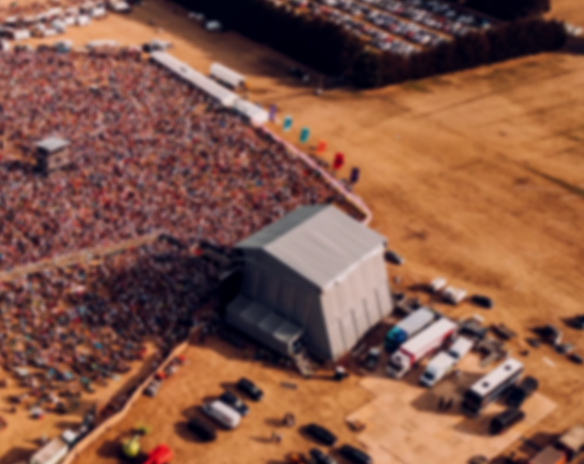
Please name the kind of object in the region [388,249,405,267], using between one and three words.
car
